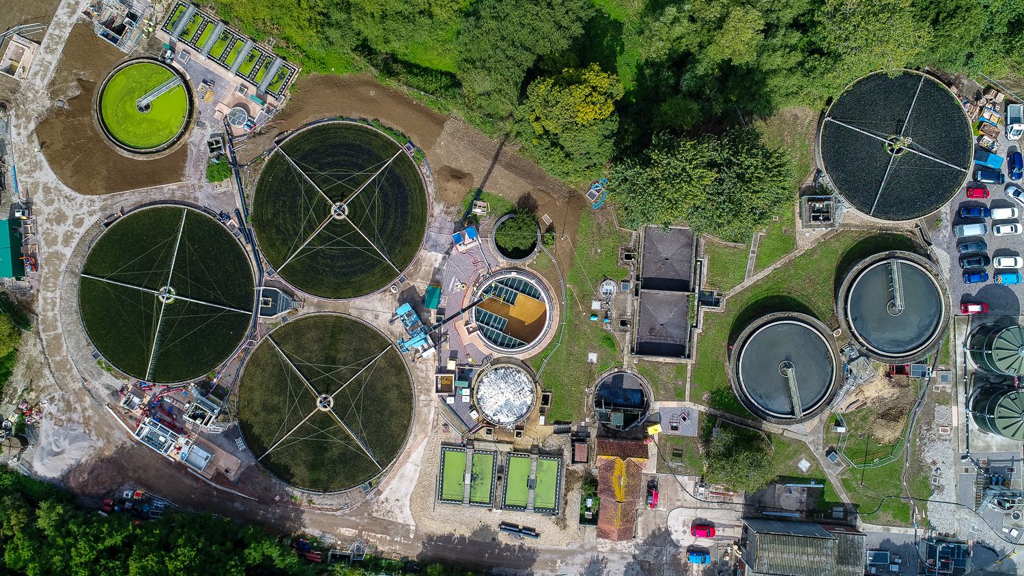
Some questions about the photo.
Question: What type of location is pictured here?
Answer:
industrial area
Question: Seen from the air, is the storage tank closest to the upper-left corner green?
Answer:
Yes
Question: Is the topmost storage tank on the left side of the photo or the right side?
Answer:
left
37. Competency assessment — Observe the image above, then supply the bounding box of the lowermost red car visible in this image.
[689,522,715,537]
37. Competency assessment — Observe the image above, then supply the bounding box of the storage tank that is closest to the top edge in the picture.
[160,0,302,98]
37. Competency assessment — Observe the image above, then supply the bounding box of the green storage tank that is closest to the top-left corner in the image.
[94,53,201,160]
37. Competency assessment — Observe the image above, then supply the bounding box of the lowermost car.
[685,549,708,565]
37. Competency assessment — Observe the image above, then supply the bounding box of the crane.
[389,290,511,362]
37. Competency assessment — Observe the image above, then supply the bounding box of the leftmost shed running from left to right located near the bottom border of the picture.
[737,518,866,576]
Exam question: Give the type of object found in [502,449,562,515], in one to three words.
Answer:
storage tank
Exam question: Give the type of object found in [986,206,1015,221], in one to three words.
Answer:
car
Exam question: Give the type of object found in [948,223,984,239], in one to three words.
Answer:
vehicle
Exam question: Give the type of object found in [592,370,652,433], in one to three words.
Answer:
storage tank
